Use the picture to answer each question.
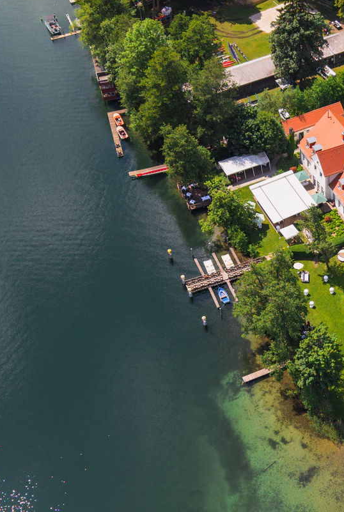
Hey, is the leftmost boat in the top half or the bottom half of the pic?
top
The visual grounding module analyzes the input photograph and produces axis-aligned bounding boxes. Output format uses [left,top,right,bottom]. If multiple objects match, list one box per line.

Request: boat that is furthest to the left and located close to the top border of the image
[41,12,62,37]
